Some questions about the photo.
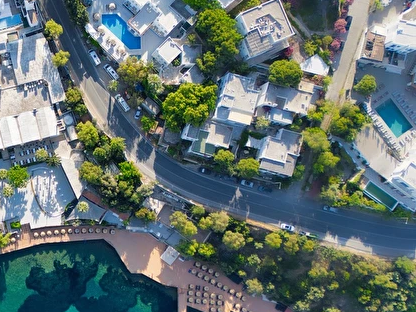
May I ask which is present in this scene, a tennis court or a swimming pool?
swimming pool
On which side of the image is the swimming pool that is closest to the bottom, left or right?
right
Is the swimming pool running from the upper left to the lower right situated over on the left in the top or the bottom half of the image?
top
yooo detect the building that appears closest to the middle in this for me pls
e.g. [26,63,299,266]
[178,122,234,156]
